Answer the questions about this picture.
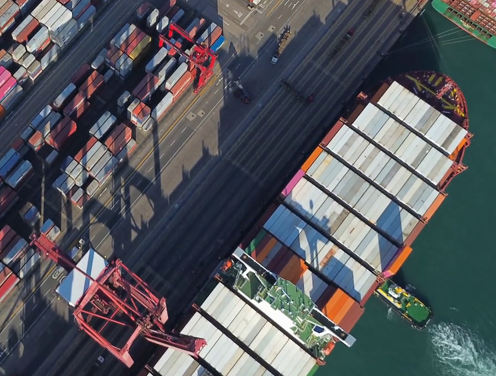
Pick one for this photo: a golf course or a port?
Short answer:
port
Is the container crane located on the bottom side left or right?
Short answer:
left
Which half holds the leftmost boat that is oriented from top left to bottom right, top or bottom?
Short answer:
bottom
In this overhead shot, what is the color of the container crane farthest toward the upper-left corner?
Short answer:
red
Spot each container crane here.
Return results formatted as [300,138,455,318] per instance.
[22,218,215,376]
[153,21,221,95]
